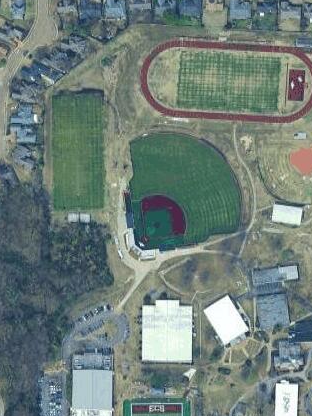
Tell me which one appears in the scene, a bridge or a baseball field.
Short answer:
baseball field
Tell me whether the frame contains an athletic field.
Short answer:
Yes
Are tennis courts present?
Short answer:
No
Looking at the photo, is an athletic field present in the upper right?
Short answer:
Yes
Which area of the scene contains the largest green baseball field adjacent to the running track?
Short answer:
center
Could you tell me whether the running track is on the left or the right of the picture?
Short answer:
right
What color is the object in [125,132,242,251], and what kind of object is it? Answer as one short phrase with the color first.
green baseball field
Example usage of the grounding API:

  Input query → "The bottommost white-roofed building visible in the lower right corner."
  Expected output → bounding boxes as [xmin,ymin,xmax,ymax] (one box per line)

[275,380,298,416]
